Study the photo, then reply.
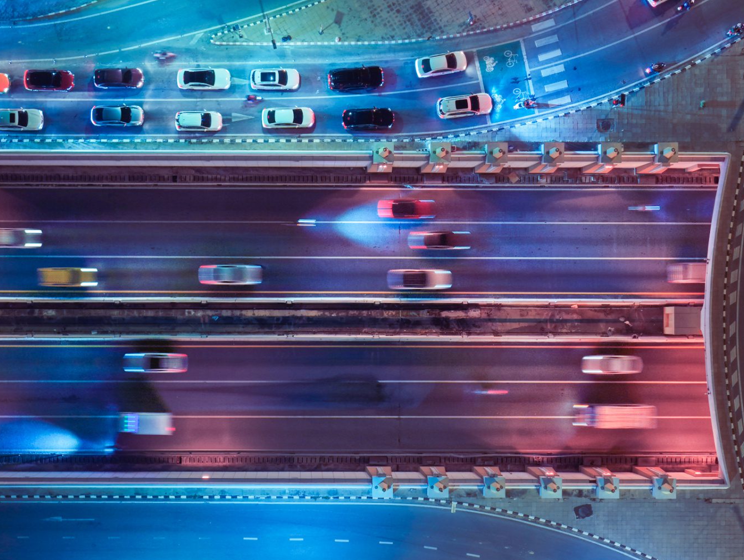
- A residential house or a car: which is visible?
car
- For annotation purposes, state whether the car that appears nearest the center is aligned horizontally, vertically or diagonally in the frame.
horizontally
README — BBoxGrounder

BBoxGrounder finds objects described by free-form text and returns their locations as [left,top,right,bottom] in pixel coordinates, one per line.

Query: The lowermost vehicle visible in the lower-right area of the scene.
[576,402,657,431]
